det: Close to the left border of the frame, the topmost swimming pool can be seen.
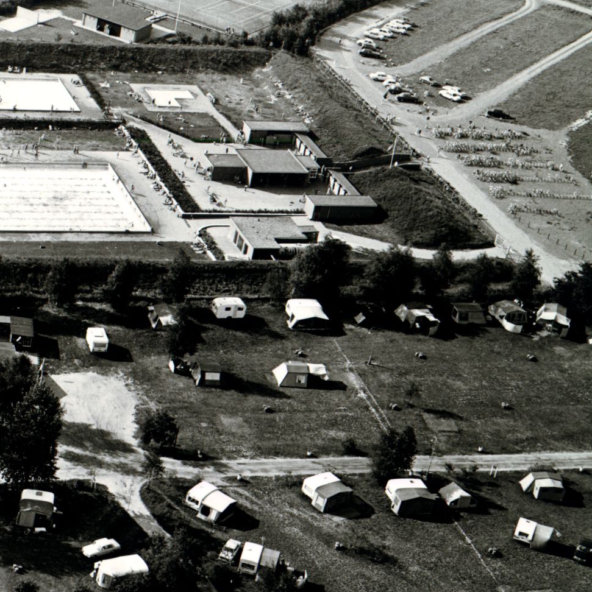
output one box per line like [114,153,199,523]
[0,73,80,113]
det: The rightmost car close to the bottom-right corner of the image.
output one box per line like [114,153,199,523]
[574,537,592,561]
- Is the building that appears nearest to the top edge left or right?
left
